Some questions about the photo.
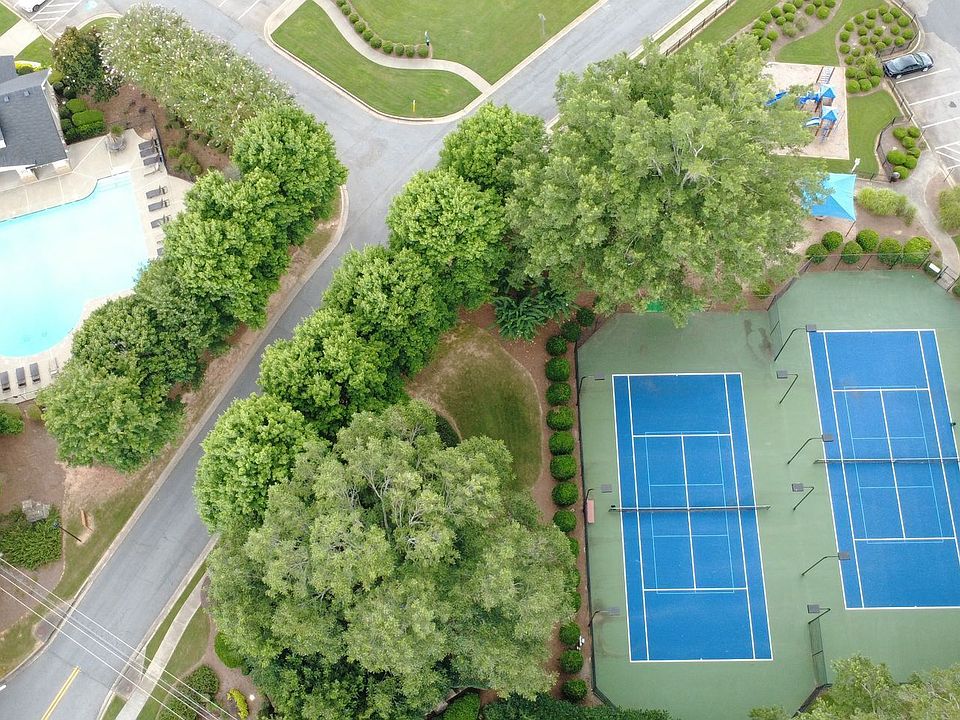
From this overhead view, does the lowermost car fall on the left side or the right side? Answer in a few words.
right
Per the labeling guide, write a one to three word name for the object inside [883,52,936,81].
car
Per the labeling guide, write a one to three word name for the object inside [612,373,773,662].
tennis court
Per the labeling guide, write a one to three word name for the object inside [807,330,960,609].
tennis court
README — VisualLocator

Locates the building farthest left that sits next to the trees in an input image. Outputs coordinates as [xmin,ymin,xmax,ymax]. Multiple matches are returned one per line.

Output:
[0,53,69,178]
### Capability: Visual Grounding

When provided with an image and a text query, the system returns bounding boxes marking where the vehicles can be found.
[19,0,47,13]
[883,52,936,81]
